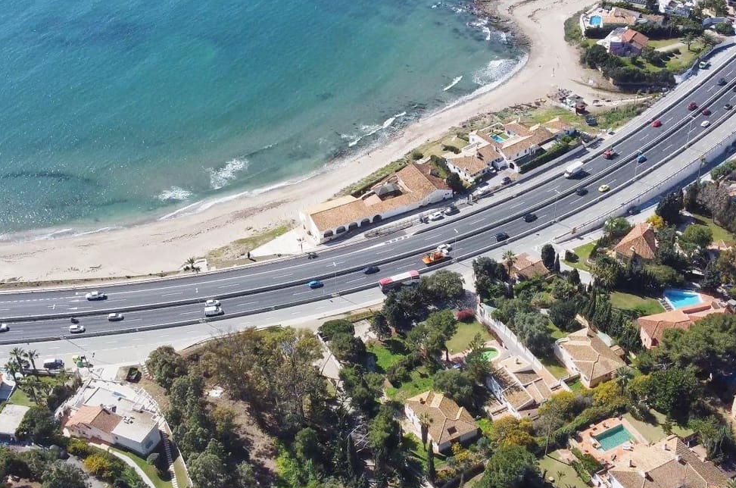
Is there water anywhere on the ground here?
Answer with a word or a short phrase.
Yes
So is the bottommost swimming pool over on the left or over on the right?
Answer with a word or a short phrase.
right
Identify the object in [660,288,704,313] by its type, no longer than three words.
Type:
swimming pool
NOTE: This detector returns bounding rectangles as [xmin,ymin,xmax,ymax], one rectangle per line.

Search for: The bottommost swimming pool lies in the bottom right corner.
[592,422,639,454]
